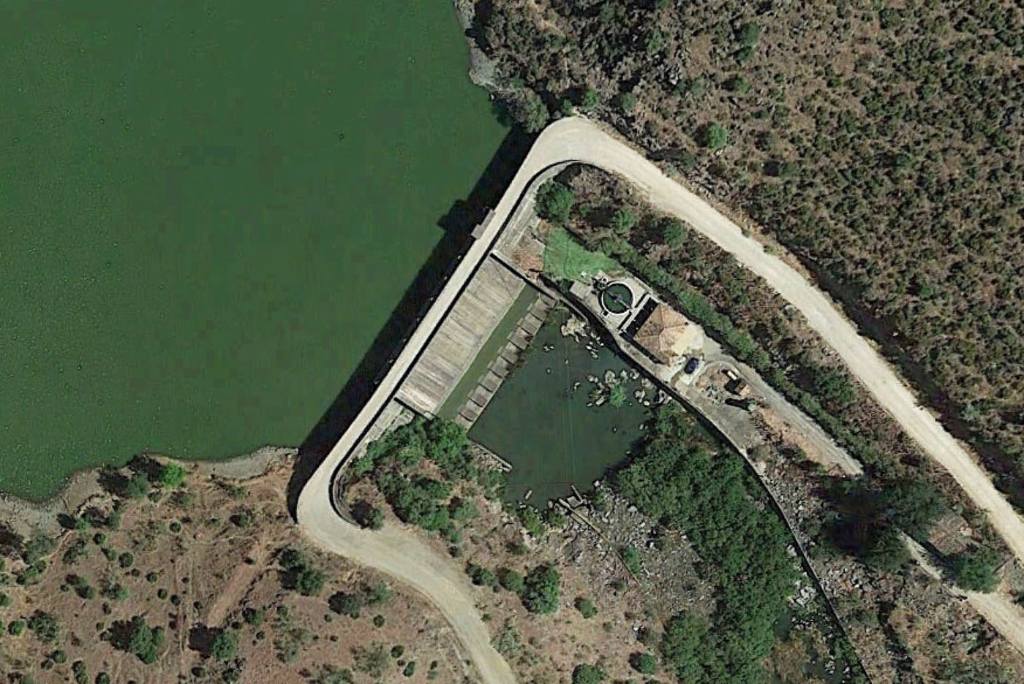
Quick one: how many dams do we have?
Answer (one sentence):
I count just 1 dam.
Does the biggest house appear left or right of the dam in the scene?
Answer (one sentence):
Looking at the picture, you'll find the biggest house to the right of the dam.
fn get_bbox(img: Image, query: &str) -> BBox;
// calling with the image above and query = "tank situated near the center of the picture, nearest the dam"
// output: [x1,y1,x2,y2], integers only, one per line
[602,282,634,314]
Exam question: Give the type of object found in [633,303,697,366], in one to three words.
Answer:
house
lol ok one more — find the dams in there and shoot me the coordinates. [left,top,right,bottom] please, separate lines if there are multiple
[297,115,587,541]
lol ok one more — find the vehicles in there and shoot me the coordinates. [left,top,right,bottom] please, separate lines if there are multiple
[686,358,698,374]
